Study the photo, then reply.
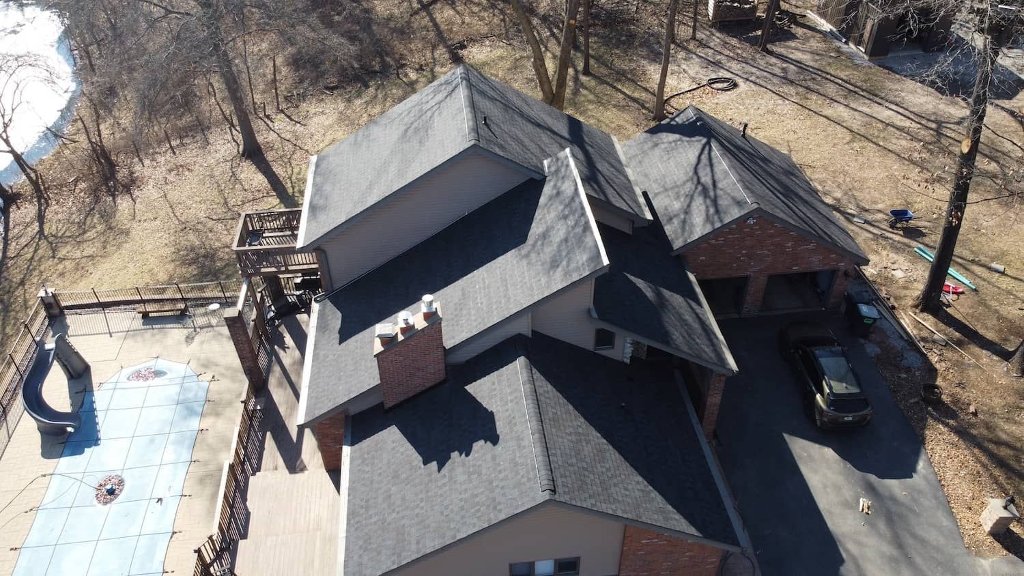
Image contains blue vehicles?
No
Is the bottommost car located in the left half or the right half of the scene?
right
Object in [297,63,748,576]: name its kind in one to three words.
house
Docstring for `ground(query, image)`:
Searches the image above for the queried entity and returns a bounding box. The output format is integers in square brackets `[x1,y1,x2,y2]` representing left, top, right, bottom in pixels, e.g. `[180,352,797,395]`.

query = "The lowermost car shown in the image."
[779,330,875,428]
